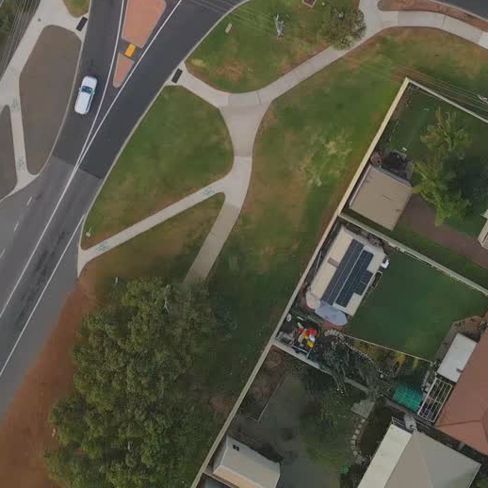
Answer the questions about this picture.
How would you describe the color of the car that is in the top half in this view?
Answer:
white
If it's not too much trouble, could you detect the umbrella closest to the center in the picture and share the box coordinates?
[305,292,321,308]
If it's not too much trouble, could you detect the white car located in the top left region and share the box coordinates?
[73,73,99,116]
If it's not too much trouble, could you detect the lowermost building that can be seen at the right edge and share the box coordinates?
[380,426,482,488]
